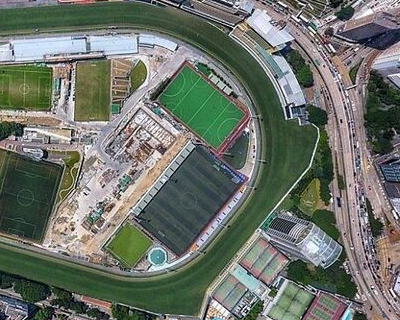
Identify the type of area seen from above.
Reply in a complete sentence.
It's a sports ground.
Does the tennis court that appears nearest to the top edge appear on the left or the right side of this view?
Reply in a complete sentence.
It is on the right.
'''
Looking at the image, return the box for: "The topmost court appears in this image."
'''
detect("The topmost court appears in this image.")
[240,238,292,286]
